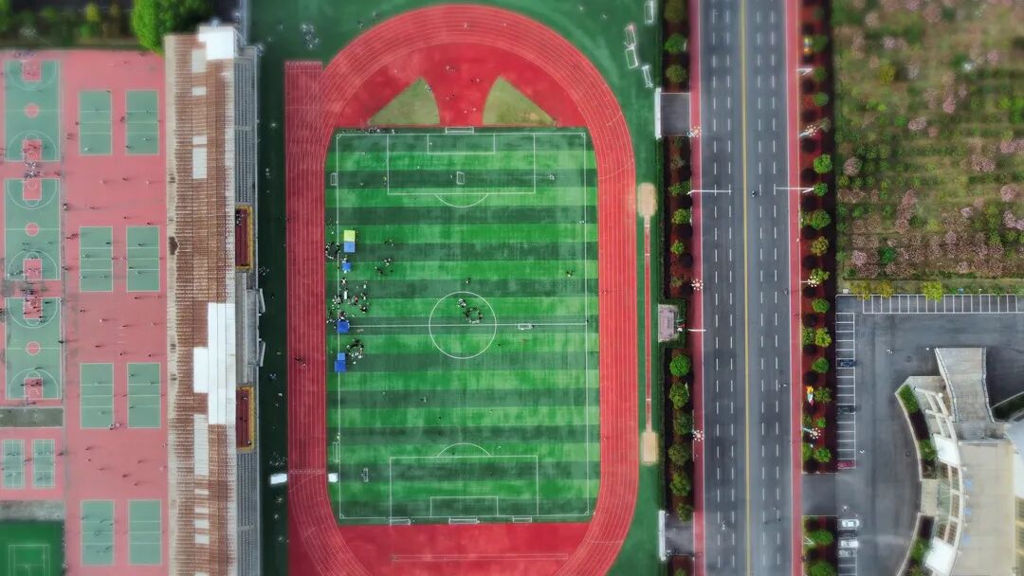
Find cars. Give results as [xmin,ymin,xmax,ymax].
[838,360,855,368]
[841,520,859,528]
[839,530,855,538]
[841,540,859,549]
[838,406,855,413]
[838,461,854,469]
[839,550,856,558]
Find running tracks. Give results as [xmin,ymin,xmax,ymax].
[285,5,639,576]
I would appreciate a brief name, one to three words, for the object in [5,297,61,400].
basketball court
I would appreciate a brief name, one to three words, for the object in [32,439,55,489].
sports court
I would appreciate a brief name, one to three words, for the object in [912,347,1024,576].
building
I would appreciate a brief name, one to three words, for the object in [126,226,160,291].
sports court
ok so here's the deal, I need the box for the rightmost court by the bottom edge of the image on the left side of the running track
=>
[128,500,161,565]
